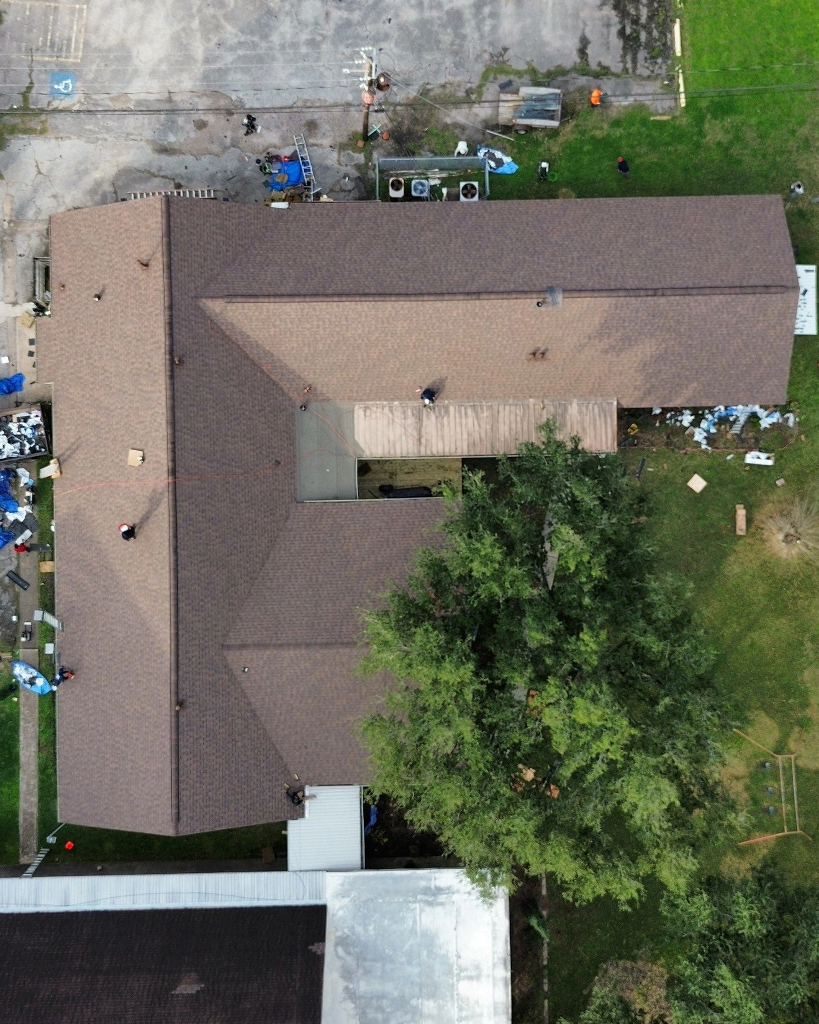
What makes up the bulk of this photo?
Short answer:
buildings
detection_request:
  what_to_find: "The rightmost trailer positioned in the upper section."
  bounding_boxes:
[499,84,571,136]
